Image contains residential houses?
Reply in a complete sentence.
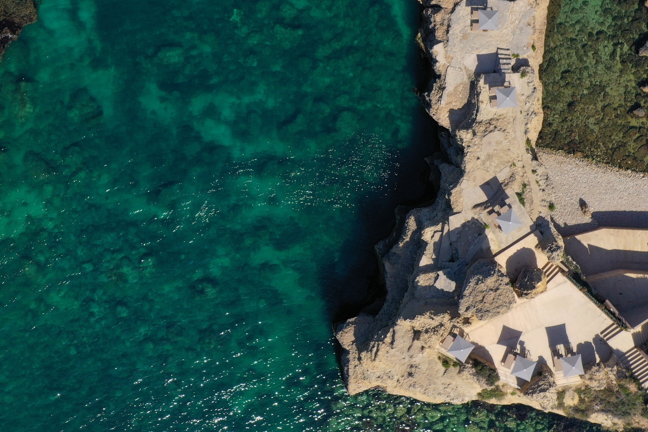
No, no residential house can be seen from above.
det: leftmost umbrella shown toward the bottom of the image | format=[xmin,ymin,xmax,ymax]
[445,335,474,363]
